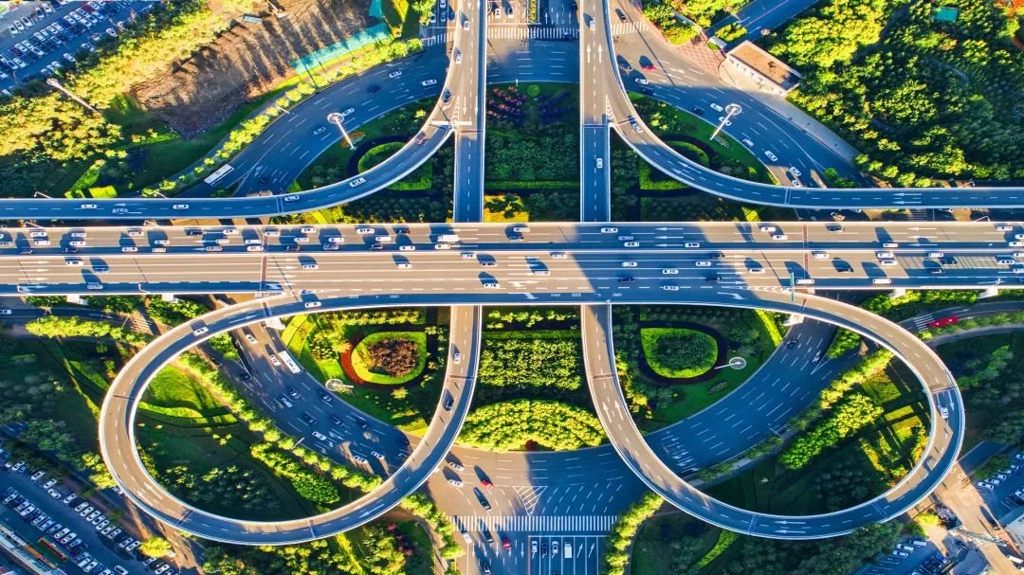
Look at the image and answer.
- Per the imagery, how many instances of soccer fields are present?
none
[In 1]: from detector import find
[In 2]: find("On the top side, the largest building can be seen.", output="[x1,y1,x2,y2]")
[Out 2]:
[722,39,803,101]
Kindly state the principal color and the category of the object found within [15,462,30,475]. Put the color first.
blue vehicle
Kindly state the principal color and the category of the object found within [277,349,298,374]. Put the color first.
white bus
